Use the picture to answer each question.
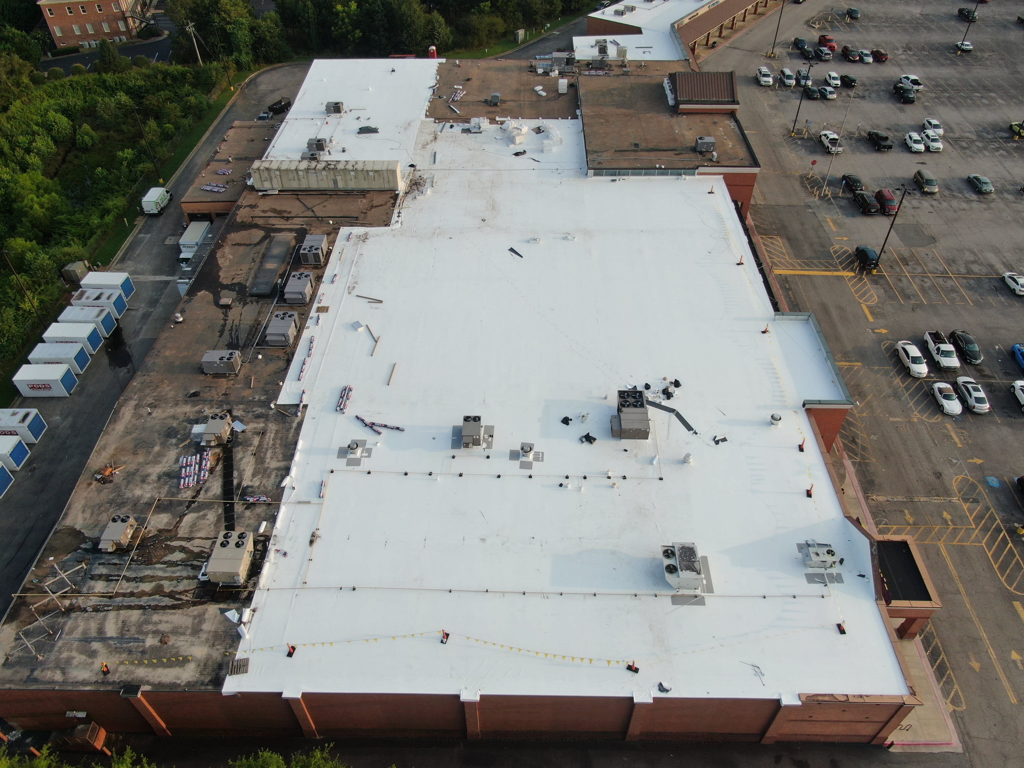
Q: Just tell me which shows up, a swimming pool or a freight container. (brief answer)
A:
freight container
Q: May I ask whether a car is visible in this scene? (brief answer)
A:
Yes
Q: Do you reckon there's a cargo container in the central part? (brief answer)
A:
No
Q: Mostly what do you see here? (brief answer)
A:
buildings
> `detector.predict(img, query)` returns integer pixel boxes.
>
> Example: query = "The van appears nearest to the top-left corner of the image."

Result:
[142,183,174,213]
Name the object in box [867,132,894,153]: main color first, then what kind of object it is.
black truck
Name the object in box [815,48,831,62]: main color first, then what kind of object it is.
gray car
